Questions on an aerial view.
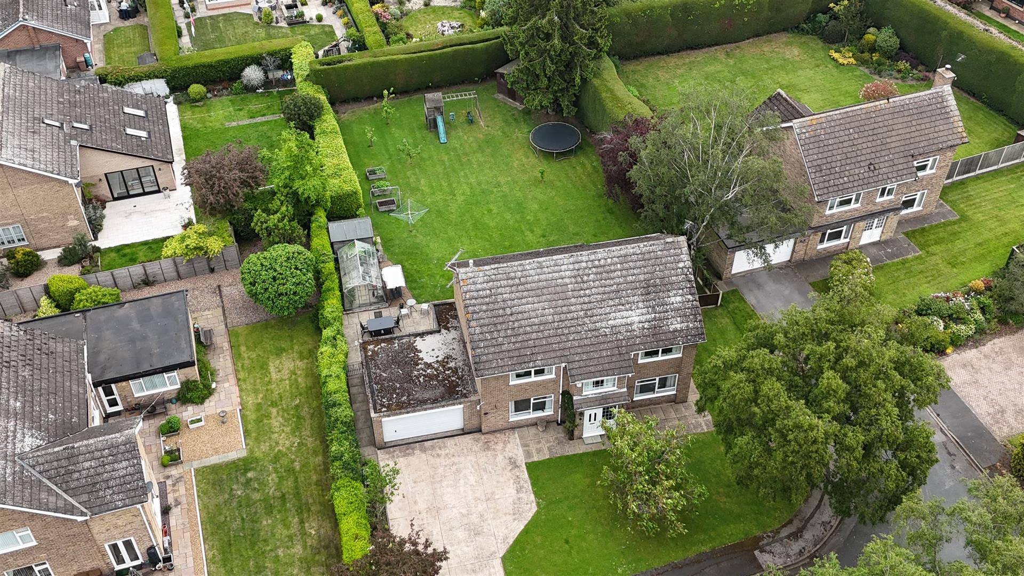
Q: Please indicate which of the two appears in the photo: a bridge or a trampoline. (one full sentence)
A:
I can see a trampoline in this picture.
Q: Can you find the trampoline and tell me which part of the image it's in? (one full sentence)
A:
The trampoline appears toward the top of the photo.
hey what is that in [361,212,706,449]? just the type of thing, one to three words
house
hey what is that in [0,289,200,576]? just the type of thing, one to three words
house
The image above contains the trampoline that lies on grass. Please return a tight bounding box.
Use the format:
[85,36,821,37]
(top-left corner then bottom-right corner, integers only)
[529,122,582,164]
